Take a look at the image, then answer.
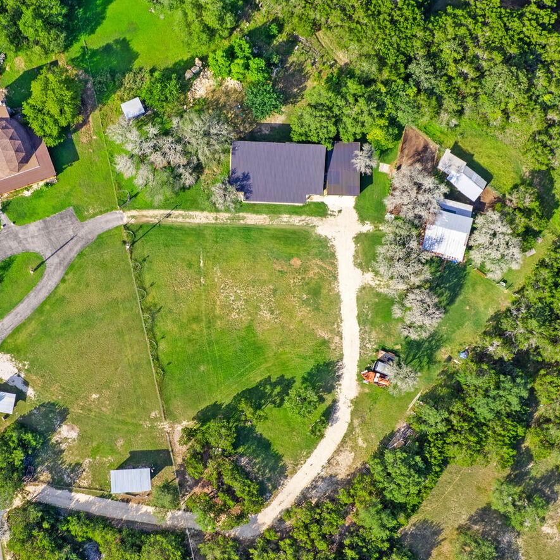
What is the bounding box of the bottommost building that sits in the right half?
[418,199,473,262]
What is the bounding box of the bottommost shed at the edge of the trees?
[110,465,151,494]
